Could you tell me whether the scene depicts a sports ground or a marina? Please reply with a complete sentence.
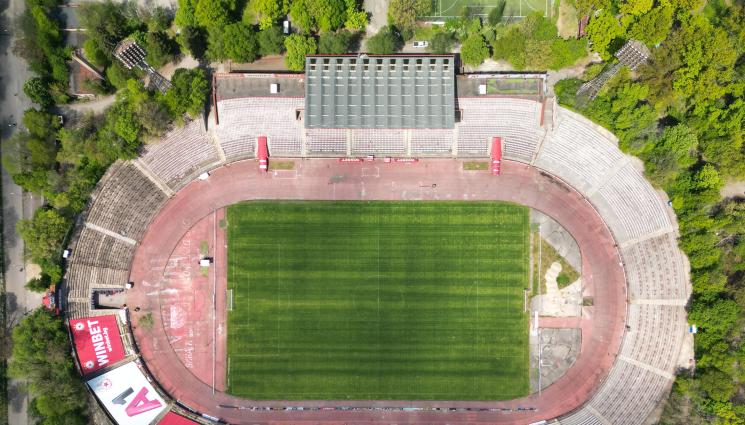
This looks like a sports ground.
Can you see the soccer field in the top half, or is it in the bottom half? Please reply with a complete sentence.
Seen from above, the soccer field lies in the bottom half of the view.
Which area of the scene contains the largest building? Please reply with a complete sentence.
The largest building sits in the top left section of the image.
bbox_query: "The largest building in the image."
[71,55,110,100]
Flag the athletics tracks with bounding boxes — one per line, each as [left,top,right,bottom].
[129,158,626,425]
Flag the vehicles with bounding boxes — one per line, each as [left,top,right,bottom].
[283,20,290,36]
[413,41,428,48]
